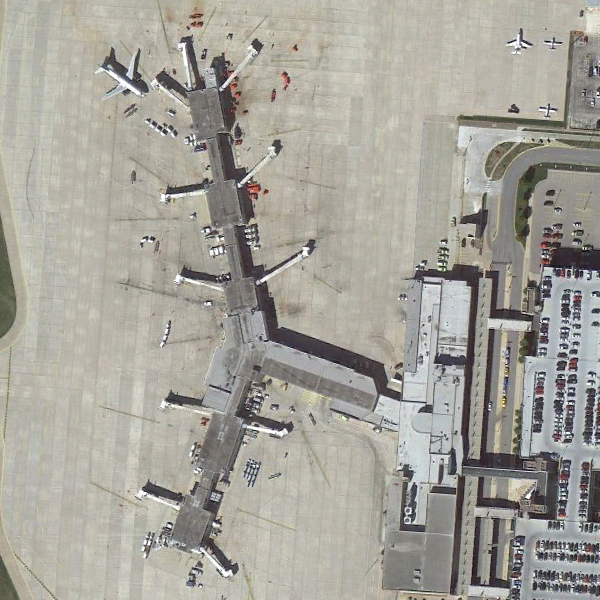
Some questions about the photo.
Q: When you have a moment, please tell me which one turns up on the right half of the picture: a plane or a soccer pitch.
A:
plane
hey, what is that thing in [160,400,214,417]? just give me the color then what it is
white jet bridge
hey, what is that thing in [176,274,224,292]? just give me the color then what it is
white jet bridge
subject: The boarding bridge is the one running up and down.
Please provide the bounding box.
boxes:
[176,42,197,91]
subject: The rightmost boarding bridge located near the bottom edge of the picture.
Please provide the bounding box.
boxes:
[200,546,231,580]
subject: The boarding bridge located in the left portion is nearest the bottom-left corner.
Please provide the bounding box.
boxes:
[136,489,182,511]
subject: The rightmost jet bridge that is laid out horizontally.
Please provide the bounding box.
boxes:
[241,422,288,436]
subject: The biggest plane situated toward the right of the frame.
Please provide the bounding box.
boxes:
[506,33,531,54]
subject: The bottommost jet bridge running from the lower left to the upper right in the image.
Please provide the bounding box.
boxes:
[255,244,309,285]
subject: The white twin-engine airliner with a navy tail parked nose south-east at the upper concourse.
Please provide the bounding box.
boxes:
[93,51,146,100]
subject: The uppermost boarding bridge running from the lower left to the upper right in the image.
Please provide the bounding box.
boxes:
[219,44,255,93]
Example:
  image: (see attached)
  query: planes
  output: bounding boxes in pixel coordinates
[93,51,146,100]
[506,33,531,54]
[544,41,562,54]
[538,106,557,120]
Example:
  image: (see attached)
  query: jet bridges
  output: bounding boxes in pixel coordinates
[238,145,276,189]
[176,42,197,91]
[160,400,214,417]
[176,274,224,292]
[255,244,309,285]
[161,189,206,206]
[148,81,191,112]
[219,44,255,93]
[241,422,288,436]
[136,489,182,511]
[200,546,231,580]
